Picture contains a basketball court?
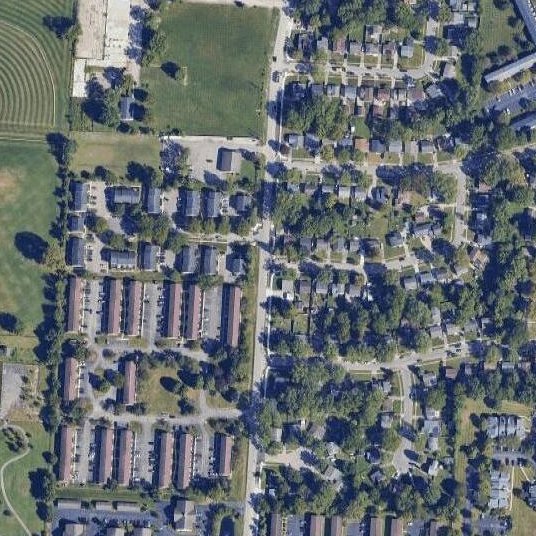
No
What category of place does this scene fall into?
residential area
